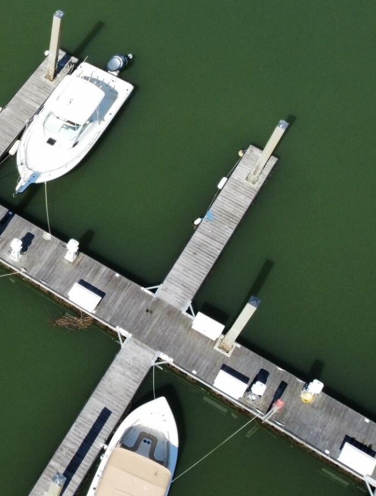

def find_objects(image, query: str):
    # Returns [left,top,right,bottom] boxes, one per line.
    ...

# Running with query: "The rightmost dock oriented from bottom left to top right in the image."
[141,146,277,318]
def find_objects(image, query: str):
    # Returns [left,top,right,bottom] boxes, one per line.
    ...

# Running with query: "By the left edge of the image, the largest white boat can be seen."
[12,53,134,186]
